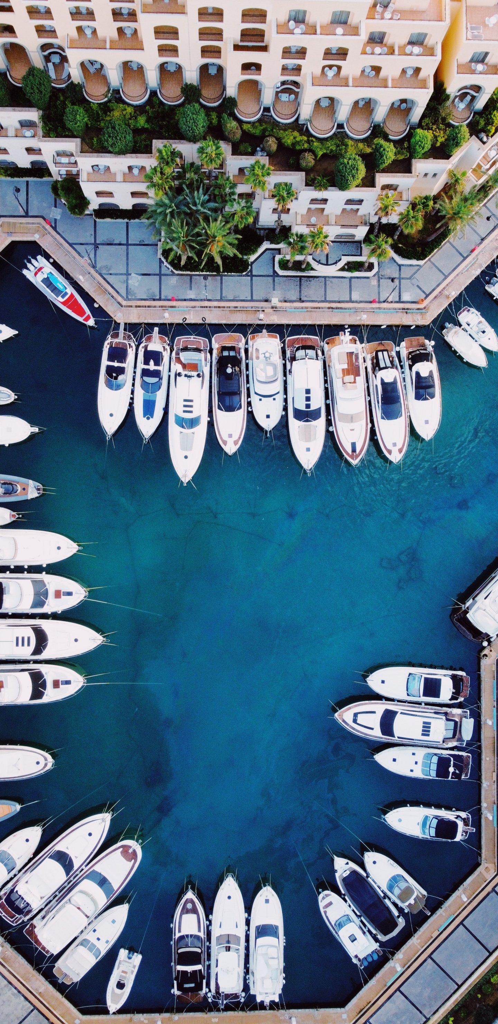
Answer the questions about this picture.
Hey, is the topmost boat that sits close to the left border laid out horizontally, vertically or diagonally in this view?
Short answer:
diagonally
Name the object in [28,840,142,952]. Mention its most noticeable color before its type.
white boat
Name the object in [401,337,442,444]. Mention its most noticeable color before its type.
white boat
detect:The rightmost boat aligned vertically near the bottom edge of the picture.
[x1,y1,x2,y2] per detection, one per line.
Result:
[250,882,285,1008]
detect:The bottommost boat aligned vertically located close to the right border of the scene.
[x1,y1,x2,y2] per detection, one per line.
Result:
[463,709,476,747]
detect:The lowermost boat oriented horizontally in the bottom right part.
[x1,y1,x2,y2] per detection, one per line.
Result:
[381,803,476,842]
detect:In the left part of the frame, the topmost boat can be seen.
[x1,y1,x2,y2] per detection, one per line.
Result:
[19,251,97,327]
